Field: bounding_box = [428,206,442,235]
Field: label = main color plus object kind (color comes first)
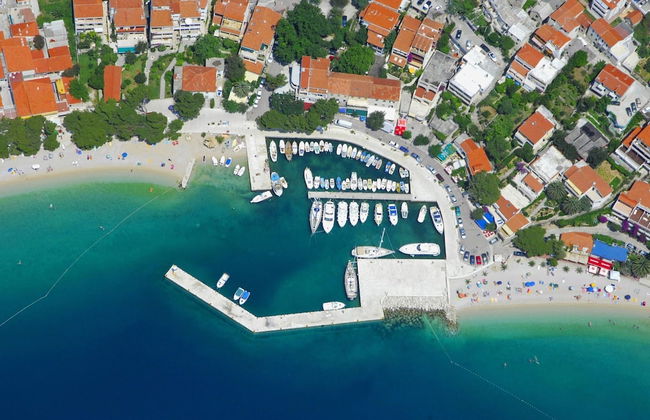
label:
white boat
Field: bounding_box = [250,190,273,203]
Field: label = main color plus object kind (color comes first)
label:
white boat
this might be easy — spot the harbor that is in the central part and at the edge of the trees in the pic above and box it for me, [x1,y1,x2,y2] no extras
[209,130,490,323]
